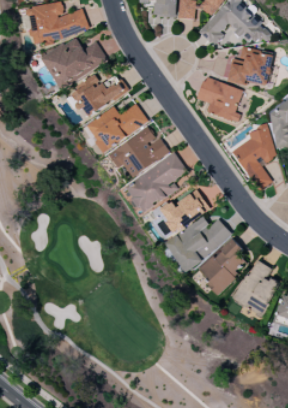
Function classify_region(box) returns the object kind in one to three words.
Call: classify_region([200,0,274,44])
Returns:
house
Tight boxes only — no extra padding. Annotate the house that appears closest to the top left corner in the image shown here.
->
[26,0,90,46]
